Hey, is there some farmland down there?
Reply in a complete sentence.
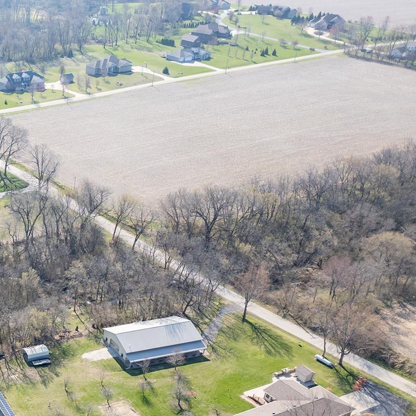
Yes, farmland can be seen from above here.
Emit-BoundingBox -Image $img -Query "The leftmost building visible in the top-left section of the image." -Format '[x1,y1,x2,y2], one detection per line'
[0,69,48,91]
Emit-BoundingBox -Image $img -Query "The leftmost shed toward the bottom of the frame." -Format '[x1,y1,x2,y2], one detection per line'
[23,345,51,362]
